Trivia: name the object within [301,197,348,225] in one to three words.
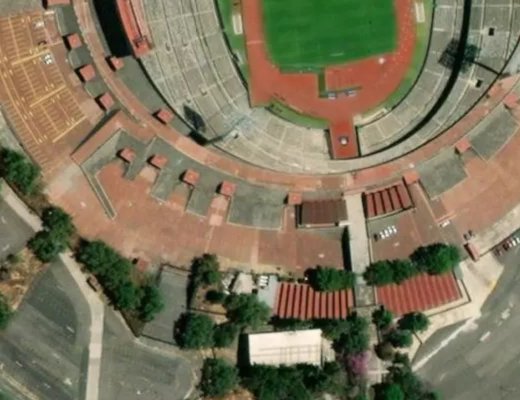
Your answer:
building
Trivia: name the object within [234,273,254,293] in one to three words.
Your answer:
shed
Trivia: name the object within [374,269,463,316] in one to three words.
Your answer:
building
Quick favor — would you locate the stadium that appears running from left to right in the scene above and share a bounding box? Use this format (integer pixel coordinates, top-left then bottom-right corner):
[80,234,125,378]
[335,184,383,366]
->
[114,0,520,174]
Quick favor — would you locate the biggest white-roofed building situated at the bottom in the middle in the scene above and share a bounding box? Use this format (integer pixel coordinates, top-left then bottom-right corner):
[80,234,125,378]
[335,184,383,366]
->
[247,328,323,368]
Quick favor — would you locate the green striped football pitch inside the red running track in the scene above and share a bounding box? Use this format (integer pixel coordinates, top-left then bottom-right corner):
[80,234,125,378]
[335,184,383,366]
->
[262,0,398,97]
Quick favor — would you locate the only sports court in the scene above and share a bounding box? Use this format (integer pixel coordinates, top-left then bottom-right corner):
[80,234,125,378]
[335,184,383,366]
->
[140,264,190,346]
